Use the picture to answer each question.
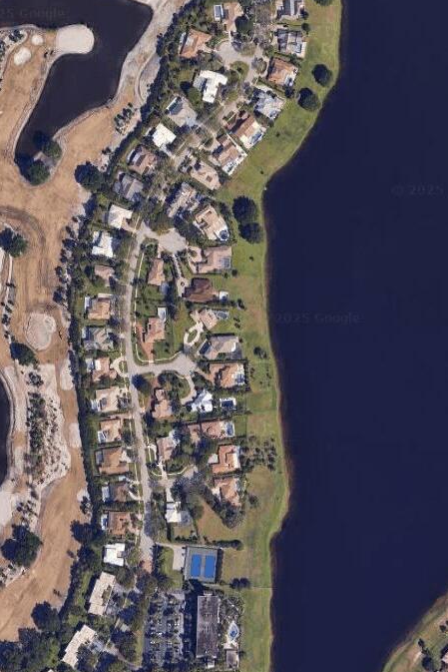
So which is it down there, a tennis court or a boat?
tennis court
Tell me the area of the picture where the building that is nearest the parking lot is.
bottom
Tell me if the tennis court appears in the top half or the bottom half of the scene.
bottom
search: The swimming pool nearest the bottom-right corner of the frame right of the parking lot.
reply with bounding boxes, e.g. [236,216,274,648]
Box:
[224,618,240,646]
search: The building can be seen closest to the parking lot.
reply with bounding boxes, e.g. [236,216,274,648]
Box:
[196,591,219,667]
